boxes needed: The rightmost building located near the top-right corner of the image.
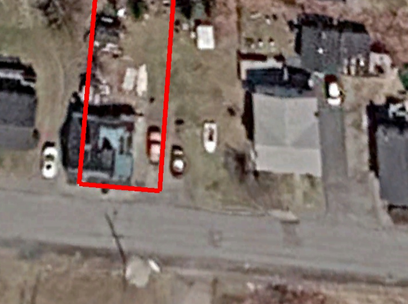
[341,29,370,75]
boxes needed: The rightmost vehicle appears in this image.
[326,80,343,108]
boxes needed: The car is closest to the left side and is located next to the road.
[41,143,59,178]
